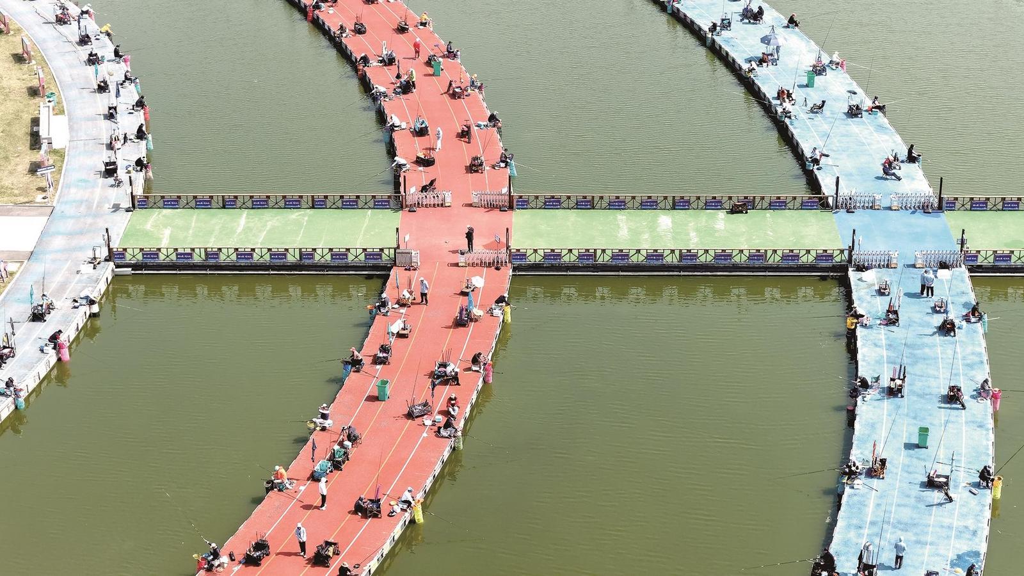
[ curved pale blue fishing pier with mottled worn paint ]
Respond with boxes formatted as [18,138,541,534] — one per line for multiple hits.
[656,0,994,576]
